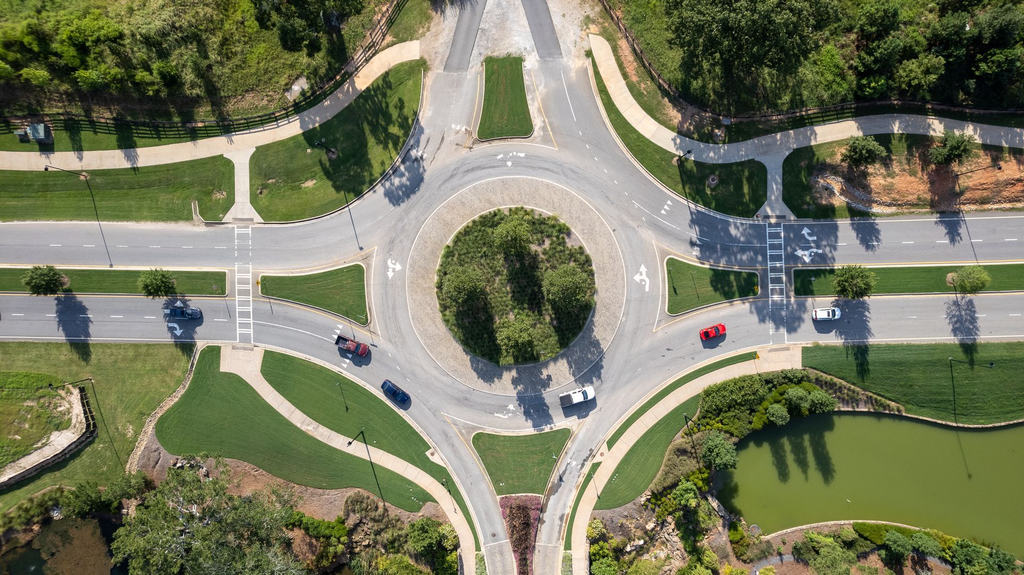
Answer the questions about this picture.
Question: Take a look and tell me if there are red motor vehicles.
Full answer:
Yes, the photo shows a red motor vehicle.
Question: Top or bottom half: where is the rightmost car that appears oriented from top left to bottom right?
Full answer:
It is in the bottom half that the rightmost car that appears oriented from top left to bottom right appears.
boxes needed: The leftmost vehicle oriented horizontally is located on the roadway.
[165,306,200,320]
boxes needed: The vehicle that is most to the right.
[811,307,841,321]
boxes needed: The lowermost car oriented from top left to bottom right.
[381,379,409,404]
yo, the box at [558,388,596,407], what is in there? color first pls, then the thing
white vehicle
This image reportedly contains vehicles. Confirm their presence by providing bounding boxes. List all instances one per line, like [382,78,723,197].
[165,306,200,320]
[333,333,370,356]
[558,388,596,407]
[698,323,726,340]
[811,307,841,321]
[381,379,409,404]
